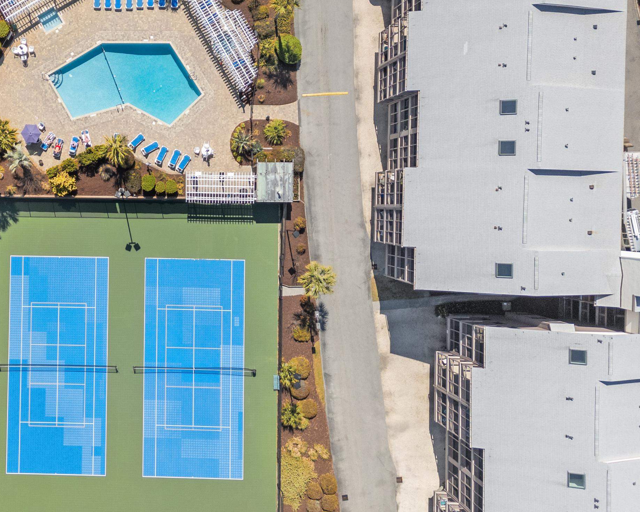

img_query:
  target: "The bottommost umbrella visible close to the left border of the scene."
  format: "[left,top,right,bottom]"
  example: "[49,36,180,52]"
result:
[21,125,41,143]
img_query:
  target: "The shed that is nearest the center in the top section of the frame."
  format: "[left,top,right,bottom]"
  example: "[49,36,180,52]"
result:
[253,159,294,201]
